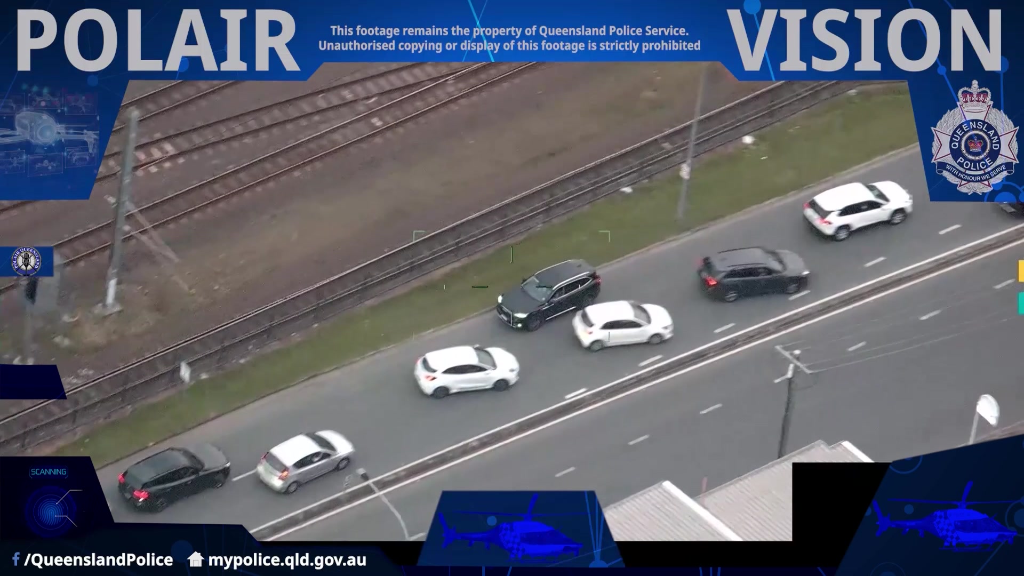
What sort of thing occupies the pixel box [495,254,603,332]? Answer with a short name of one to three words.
car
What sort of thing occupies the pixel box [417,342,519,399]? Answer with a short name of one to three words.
car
